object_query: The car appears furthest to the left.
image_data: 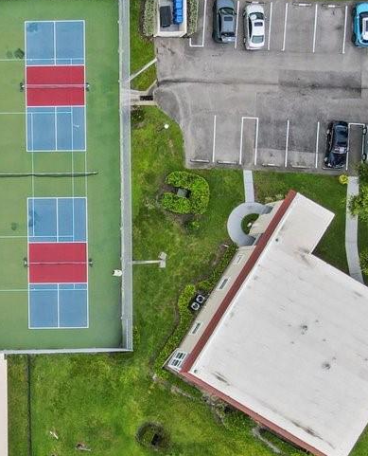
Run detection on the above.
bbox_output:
[212,0,236,43]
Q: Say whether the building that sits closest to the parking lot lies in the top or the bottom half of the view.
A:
bottom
